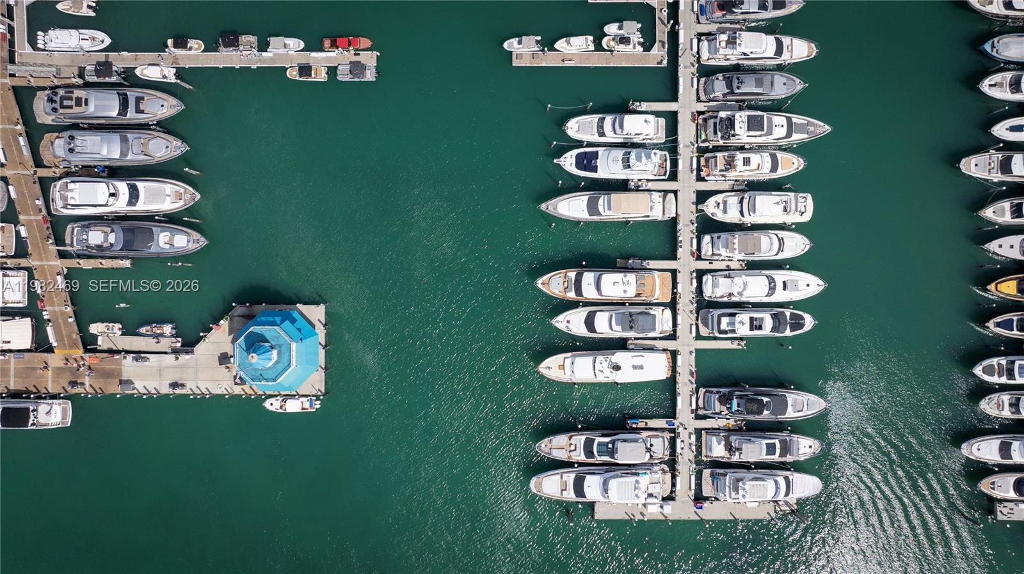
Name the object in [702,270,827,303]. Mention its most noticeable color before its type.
white boat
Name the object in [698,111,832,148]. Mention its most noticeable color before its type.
white boat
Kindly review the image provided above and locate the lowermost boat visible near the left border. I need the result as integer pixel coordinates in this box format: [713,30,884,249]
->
[0,398,72,430]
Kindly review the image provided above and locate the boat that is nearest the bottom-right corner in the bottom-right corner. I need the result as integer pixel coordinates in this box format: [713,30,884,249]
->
[977,472,1024,501]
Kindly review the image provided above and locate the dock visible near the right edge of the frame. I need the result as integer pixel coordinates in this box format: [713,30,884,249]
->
[990,499,1024,520]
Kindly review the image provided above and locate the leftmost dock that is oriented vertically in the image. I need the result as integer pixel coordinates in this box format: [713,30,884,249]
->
[0,0,133,353]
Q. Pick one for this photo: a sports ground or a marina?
marina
